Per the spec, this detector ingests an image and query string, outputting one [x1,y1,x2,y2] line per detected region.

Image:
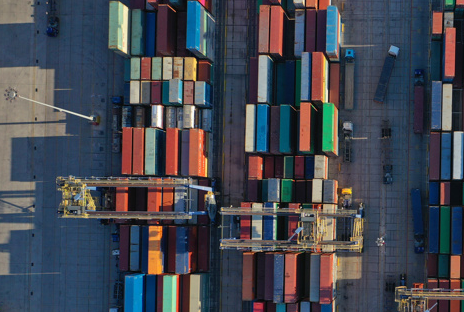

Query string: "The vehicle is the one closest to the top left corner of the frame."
[45,0,59,38]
